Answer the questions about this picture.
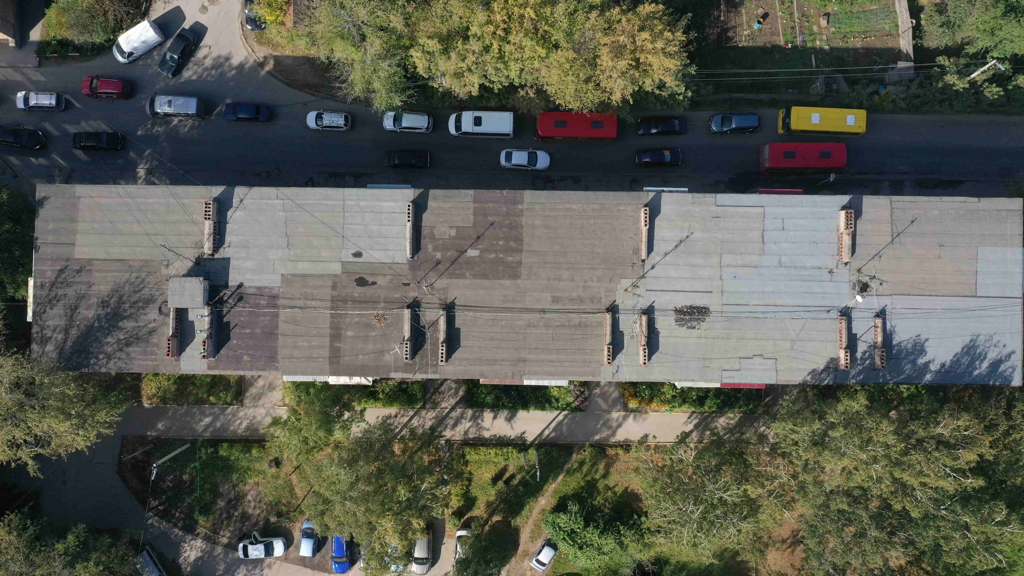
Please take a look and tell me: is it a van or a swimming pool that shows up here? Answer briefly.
van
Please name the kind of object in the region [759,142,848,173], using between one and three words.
vehicle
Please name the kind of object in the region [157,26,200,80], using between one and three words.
car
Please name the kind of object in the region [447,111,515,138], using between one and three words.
vehicle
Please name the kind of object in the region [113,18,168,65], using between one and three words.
van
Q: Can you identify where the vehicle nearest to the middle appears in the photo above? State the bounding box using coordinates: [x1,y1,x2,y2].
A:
[501,147,551,171]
